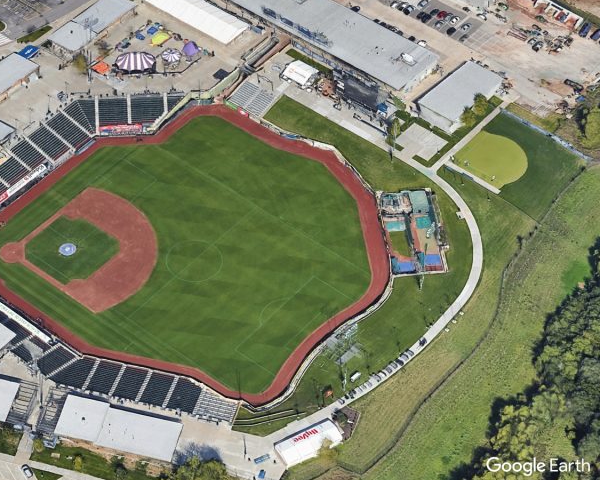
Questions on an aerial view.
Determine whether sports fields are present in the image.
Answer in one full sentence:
Yes, there is a sports field in the image.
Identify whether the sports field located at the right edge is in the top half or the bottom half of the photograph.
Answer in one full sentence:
Seen from above, the sports field located at the right edge lies in the top half of the view.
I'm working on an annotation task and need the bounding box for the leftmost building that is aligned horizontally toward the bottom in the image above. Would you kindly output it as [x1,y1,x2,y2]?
[55,394,183,468]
